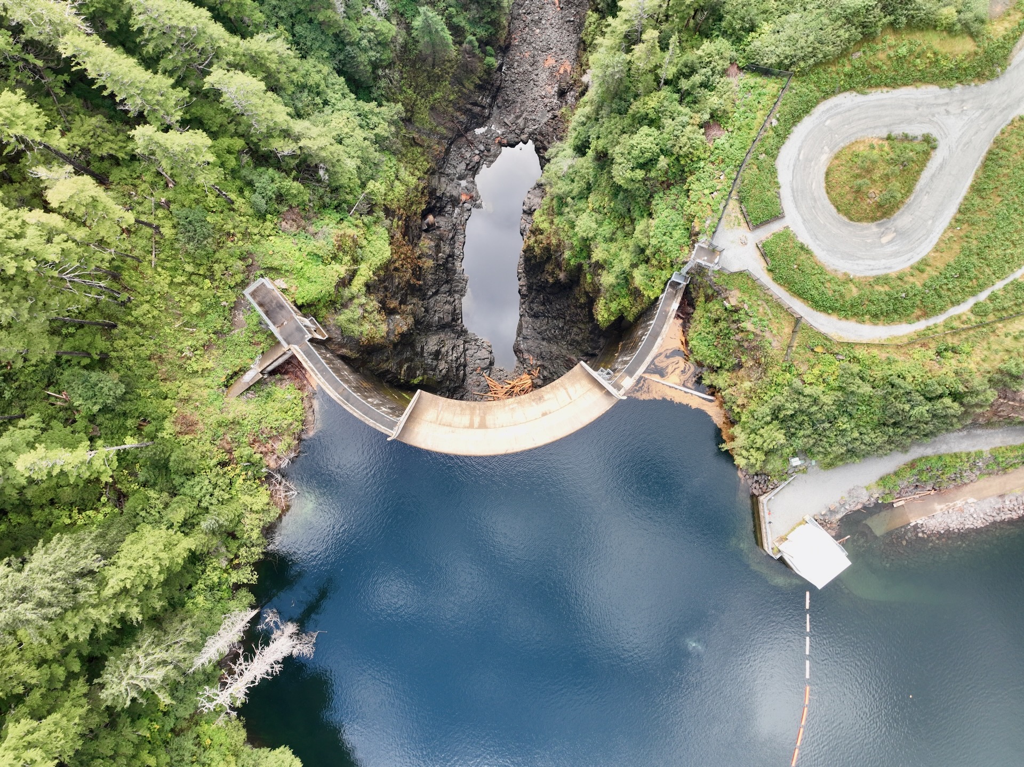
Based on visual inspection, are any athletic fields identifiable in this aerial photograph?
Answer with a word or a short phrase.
No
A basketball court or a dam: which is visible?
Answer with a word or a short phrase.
dam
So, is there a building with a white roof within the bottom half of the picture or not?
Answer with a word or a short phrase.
Yes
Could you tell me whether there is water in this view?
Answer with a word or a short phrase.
Yes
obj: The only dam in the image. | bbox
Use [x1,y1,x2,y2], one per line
[223,268,689,456]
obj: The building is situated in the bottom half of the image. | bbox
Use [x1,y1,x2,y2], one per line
[768,517,853,590]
